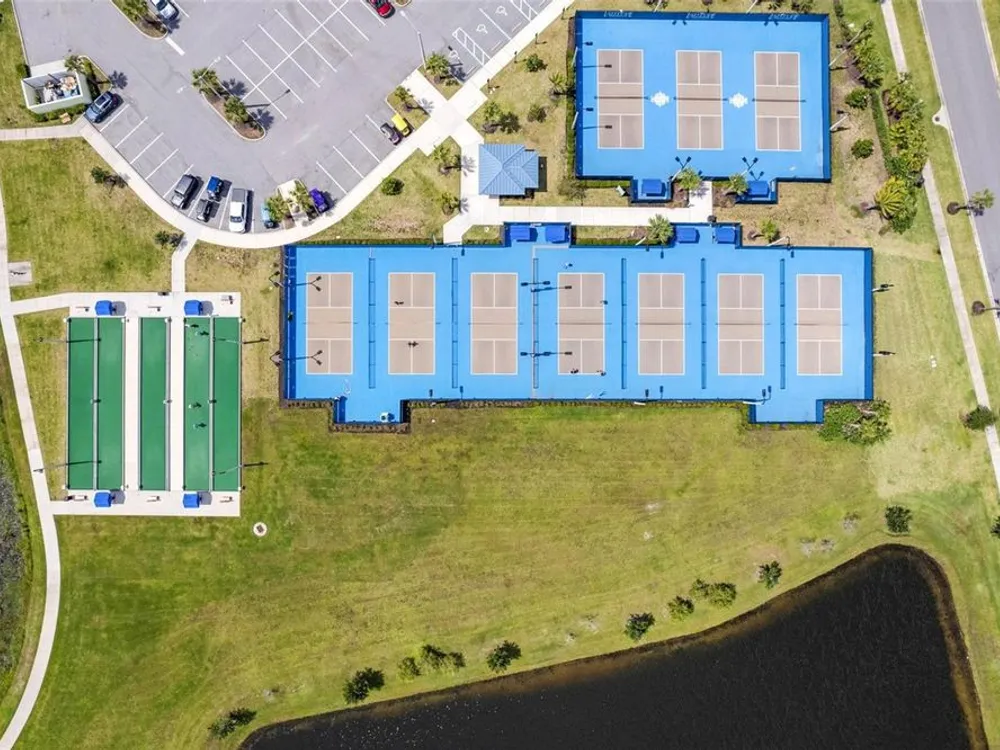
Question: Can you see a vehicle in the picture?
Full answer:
Yes, the photo shows a vehicle.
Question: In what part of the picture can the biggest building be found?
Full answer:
The biggest building is located in the top region of the scene.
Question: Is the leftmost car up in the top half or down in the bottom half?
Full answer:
It is in the top half that the leftmost car appears.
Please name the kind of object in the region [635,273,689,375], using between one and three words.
sports court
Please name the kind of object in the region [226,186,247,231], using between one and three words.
truck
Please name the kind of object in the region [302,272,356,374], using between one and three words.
sports court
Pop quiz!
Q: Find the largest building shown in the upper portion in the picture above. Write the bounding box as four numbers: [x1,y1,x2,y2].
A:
[479,144,539,196]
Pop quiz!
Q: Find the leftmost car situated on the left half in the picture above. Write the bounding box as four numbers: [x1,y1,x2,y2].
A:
[80,87,114,121]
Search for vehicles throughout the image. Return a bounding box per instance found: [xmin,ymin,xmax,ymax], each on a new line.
[380,120,400,144]
[311,187,329,212]
[80,87,114,121]
[170,171,198,209]
[368,0,395,18]
[205,175,224,197]
[226,186,247,231]
[194,196,212,218]
[393,110,412,134]
[146,0,174,21]
[259,203,275,226]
